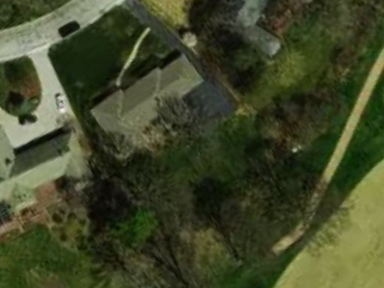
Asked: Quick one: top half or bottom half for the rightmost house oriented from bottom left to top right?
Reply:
top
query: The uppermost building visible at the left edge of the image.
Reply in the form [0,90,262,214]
[0,123,91,210]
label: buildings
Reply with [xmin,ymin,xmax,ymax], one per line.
[234,0,284,57]
[86,48,203,149]
[0,123,91,210]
